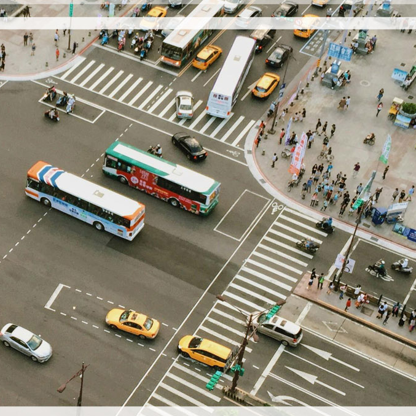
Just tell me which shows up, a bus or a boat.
bus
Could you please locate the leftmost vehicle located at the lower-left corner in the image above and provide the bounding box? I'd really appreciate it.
[0,325,54,364]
